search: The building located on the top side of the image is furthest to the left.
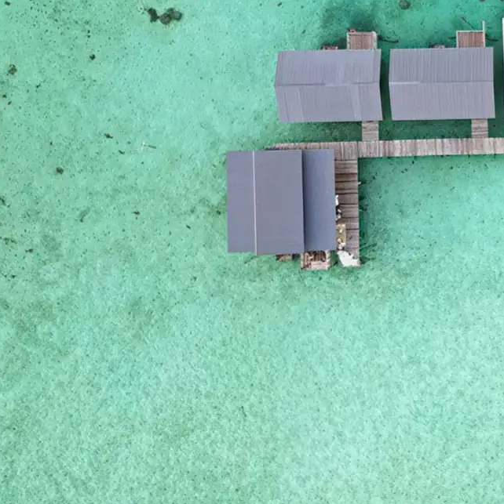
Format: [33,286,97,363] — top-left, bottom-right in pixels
[228,148,337,255]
